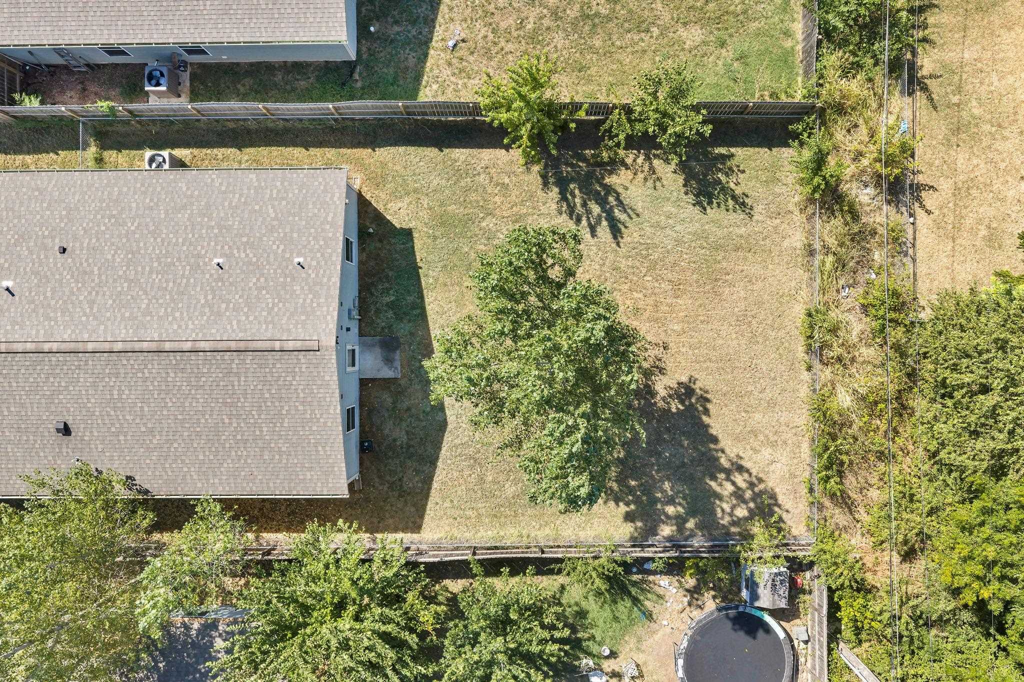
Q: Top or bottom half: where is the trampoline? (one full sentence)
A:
Seen from above, the trampoline lies in the bottom half of the view.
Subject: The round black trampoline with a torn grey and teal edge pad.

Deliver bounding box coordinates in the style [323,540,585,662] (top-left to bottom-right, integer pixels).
[672,597,803,682]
